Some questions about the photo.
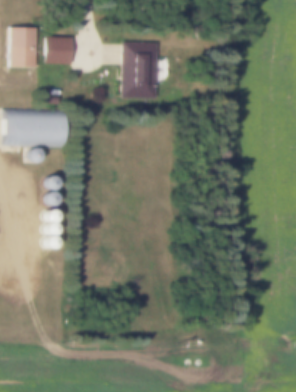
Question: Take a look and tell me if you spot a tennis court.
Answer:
No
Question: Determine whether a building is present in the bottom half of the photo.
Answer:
No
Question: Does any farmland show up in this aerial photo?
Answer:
Yes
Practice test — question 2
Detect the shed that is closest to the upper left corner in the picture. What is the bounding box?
[4,26,37,70]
